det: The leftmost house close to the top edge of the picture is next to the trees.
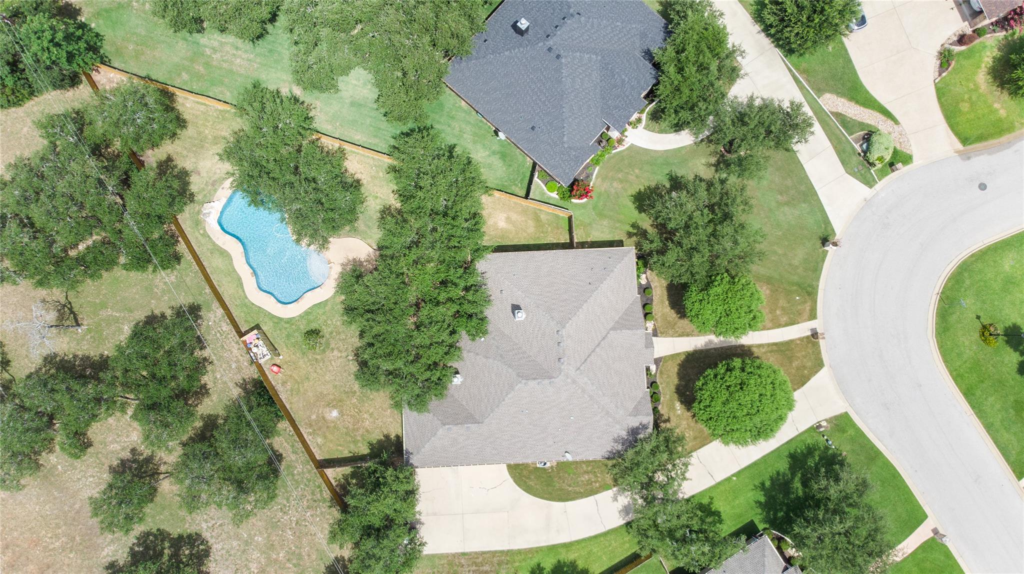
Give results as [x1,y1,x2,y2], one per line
[442,0,670,188]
